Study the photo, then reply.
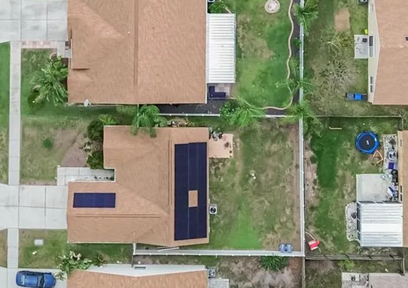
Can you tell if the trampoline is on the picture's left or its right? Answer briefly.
right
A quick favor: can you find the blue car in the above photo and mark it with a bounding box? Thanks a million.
[15,271,56,288]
